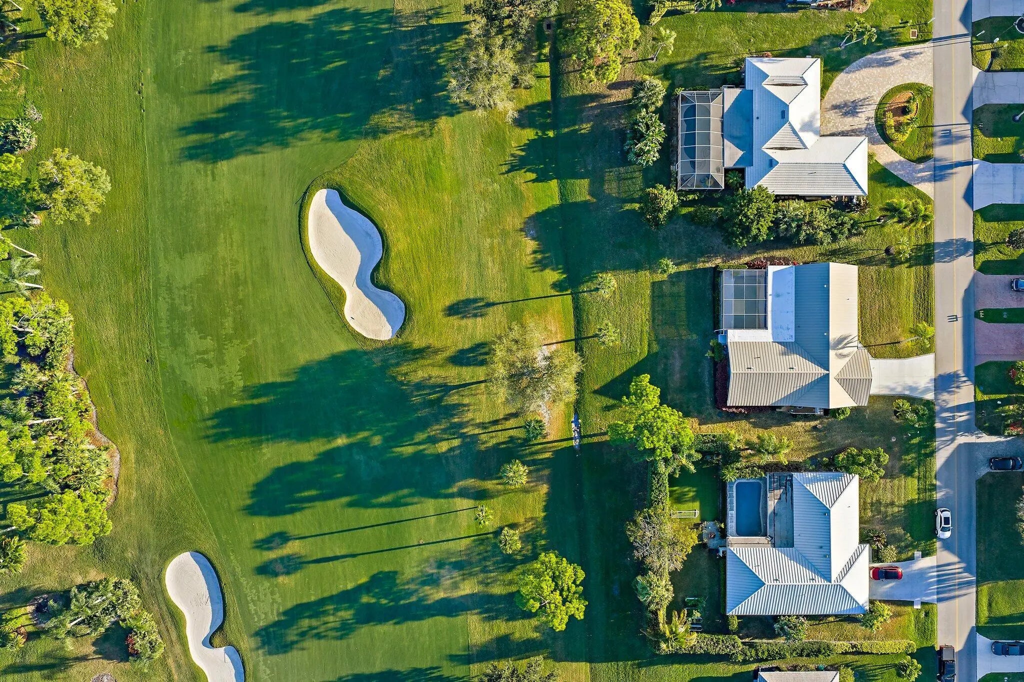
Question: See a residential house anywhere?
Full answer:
Yes, the photo shows a residential house.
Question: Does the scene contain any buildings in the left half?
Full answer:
No, there is no building in the left half.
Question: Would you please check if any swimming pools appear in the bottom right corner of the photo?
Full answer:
Yes, a swimming pool is visible in the bottom right corner of the photo.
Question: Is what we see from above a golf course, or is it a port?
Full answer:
The picture captures a golf course.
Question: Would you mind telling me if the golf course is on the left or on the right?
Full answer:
The golf course is on the left side of the image.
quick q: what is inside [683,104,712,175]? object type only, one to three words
swimming pool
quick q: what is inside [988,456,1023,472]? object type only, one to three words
car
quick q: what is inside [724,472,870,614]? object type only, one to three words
house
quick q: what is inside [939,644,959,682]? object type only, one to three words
vehicle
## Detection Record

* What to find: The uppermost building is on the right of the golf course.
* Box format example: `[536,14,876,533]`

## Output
[724,57,868,196]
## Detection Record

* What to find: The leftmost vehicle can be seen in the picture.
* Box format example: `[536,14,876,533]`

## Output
[869,566,903,582]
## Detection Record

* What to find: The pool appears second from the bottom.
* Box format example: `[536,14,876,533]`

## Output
[731,276,763,329]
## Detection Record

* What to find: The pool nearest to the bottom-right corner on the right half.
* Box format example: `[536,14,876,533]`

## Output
[733,479,765,536]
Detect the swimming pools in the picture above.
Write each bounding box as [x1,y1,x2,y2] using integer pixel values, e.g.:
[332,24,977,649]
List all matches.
[683,104,712,175]
[733,479,765,536]
[731,276,763,329]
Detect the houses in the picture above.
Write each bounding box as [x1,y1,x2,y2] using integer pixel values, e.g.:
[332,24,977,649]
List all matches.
[755,668,840,682]
[724,57,868,196]
[725,262,874,409]
[724,472,870,614]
